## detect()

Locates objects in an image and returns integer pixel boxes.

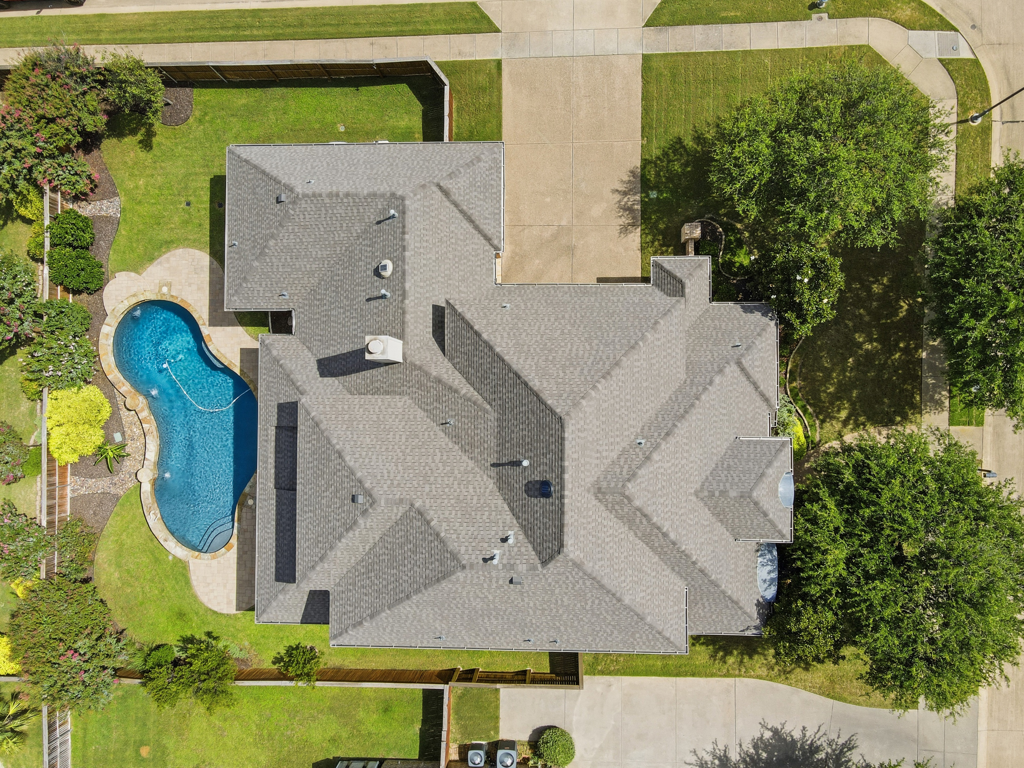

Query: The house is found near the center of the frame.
[224,141,798,656]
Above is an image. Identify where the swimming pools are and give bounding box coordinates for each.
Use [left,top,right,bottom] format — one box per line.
[96,286,257,562]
